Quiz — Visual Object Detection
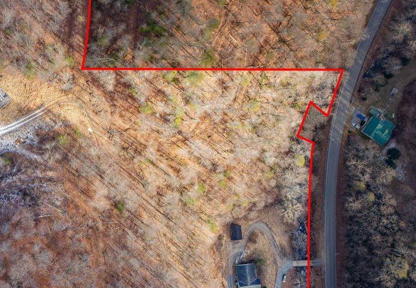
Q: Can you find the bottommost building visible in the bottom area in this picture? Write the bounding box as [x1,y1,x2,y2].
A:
[237,263,261,288]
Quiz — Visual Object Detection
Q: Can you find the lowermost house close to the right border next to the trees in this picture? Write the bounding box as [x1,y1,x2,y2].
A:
[361,107,395,145]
